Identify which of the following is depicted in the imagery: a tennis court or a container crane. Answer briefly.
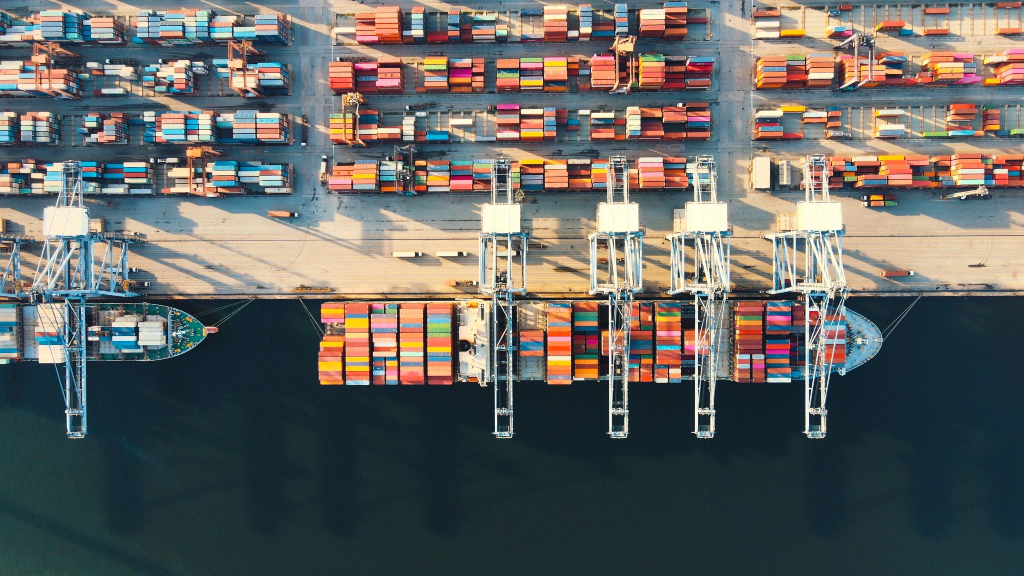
container crane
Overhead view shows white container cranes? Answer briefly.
Yes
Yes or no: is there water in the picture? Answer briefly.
Yes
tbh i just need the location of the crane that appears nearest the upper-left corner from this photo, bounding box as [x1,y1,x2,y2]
[29,41,79,102]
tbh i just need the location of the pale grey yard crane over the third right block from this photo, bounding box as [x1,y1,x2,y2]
[834,33,875,95]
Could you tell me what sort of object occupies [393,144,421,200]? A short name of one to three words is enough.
crane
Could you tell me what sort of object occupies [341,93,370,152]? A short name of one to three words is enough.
crane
